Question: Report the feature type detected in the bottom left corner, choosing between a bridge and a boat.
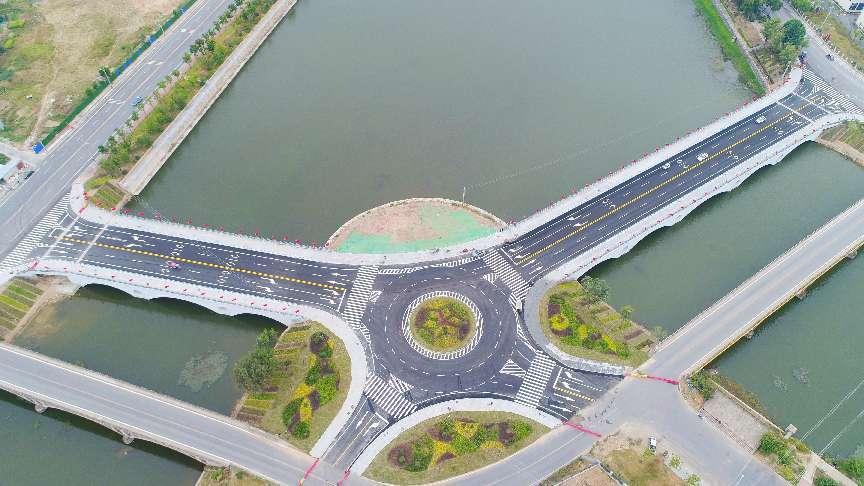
bridge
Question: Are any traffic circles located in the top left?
No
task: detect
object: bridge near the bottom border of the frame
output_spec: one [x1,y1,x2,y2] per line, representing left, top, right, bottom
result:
[0,342,233,464]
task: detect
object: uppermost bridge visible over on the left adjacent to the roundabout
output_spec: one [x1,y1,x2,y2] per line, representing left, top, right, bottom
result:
[0,193,357,324]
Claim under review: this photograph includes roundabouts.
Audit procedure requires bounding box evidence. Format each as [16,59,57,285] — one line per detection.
[320,243,624,472]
